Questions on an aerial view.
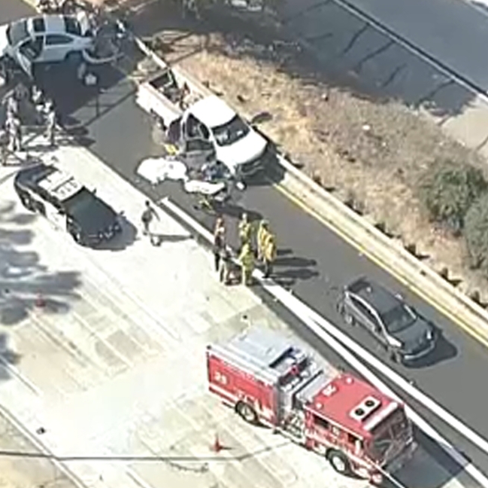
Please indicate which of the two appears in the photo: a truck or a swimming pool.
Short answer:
truck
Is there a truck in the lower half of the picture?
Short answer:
Yes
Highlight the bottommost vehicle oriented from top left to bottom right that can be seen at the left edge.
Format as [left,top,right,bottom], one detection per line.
[8,160,128,249]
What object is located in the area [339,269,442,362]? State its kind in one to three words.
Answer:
car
